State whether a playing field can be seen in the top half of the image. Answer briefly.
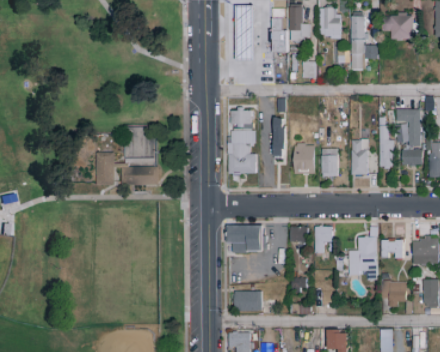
No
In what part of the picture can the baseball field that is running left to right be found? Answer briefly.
bottom left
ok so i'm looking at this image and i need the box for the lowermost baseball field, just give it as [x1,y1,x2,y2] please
[0,316,160,352]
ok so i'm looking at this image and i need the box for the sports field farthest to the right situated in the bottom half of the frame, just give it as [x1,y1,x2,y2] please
[92,202,159,324]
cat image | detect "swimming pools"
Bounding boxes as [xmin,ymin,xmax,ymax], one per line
[352,278,366,298]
